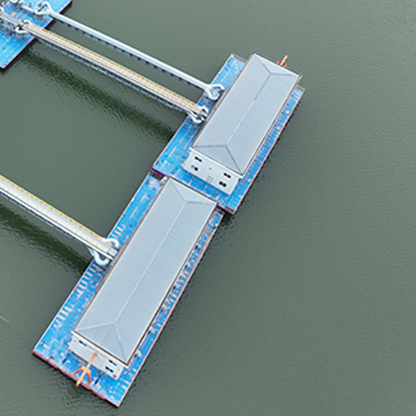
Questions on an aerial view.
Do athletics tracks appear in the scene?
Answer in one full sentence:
No, the frame has no athletics track in it.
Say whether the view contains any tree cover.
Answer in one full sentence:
No, no tree cover is visible.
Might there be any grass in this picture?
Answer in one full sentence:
No, the picture contains no grass.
